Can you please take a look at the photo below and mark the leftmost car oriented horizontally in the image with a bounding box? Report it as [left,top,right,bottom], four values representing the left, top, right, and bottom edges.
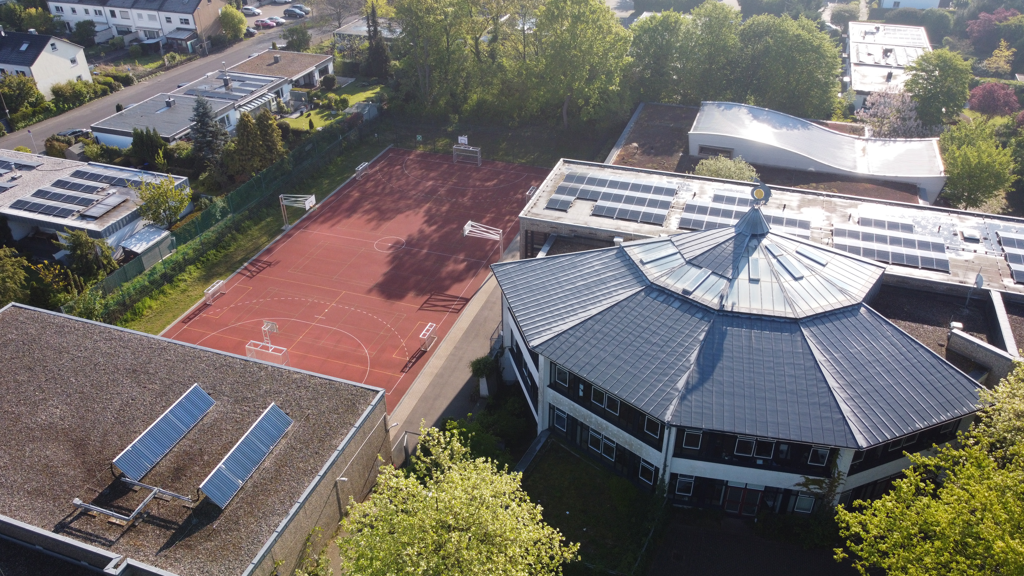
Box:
[56,123,90,138]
